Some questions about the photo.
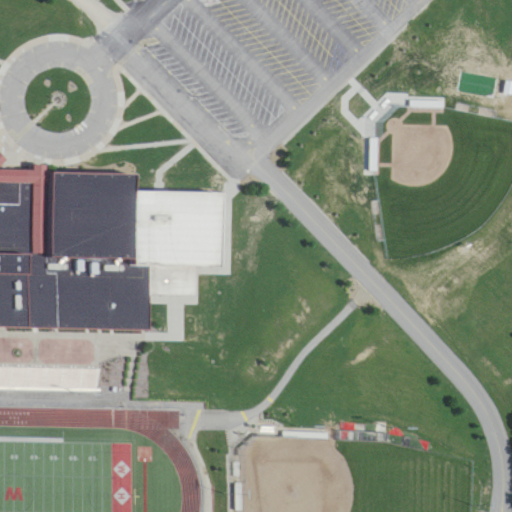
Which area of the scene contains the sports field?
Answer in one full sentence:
The sports field is in the bottom left part of the image.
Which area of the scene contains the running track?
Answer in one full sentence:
The running track is in the bottom left part of the image.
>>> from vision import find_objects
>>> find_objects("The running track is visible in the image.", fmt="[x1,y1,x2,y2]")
[0,409,201,512]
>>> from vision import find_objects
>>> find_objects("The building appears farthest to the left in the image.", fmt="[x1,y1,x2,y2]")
[0,165,151,329]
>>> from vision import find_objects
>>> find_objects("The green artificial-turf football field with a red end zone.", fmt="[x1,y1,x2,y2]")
[0,428,182,512]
